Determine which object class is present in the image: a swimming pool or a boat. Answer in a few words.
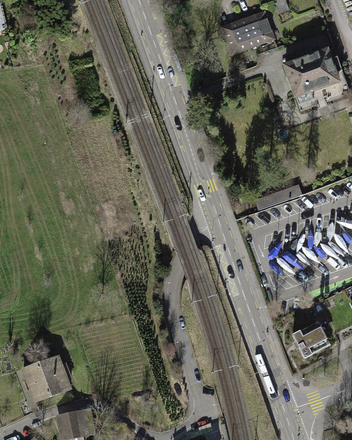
boat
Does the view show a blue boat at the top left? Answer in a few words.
No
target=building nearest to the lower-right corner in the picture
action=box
[294,324,332,360]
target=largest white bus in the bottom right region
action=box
[256,354,278,400]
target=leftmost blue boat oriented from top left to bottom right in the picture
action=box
[268,260,283,276]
